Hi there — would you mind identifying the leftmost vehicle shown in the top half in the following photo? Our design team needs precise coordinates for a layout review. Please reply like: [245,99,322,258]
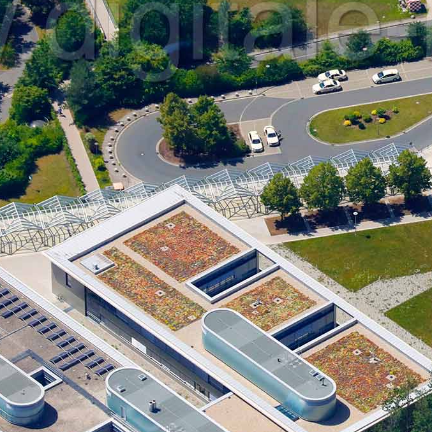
[248,132,262,151]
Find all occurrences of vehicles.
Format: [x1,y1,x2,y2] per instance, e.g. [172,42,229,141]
[373,67,398,83]
[320,67,348,81]
[312,79,342,93]
[248,132,262,151]
[264,126,284,145]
